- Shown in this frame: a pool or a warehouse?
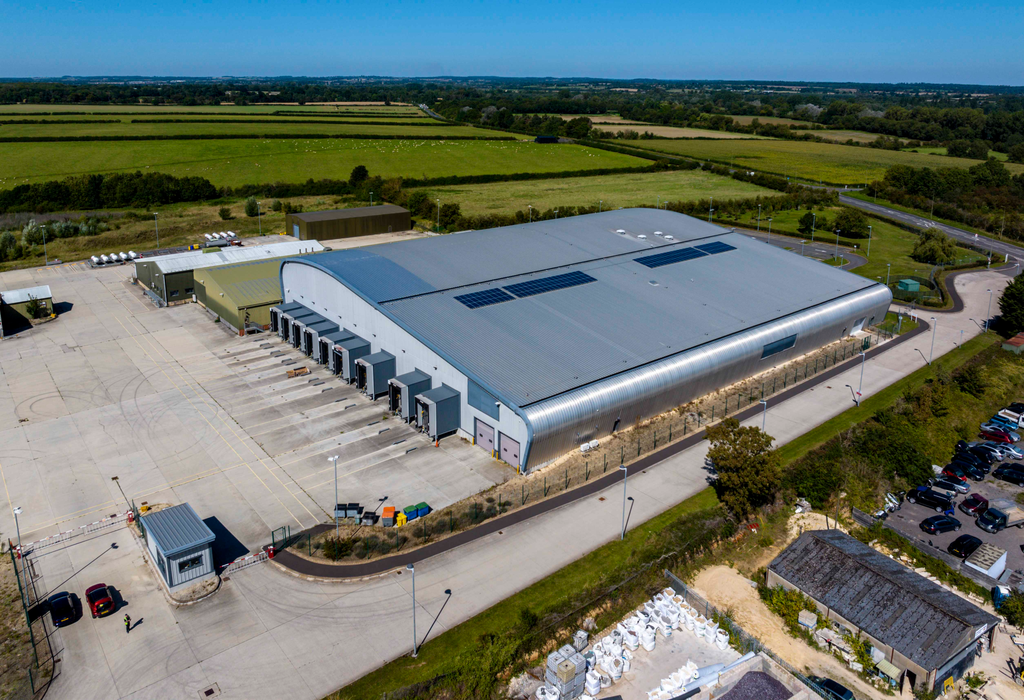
warehouse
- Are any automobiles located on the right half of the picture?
Yes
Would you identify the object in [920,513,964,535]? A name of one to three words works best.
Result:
car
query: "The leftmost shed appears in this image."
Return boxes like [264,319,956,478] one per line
[0,285,53,322]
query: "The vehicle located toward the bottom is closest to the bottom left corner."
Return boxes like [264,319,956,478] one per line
[44,586,77,624]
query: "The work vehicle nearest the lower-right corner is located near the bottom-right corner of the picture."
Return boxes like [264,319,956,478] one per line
[1000,648,1024,683]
